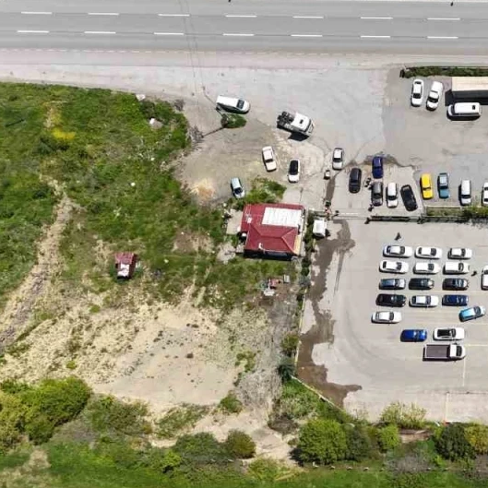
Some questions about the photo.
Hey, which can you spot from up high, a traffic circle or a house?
house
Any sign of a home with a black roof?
No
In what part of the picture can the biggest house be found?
center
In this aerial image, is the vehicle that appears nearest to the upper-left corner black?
No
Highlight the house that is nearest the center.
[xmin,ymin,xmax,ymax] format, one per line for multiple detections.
[241,205,307,255]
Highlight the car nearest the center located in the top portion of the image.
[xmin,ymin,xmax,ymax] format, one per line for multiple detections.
[228,175,247,200]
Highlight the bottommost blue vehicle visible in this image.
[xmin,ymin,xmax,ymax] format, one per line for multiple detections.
[400,329,428,341]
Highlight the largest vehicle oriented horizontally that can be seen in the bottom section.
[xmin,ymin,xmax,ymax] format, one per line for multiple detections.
[423,344,466,360]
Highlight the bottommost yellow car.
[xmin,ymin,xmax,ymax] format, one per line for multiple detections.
[421,172,434,201]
